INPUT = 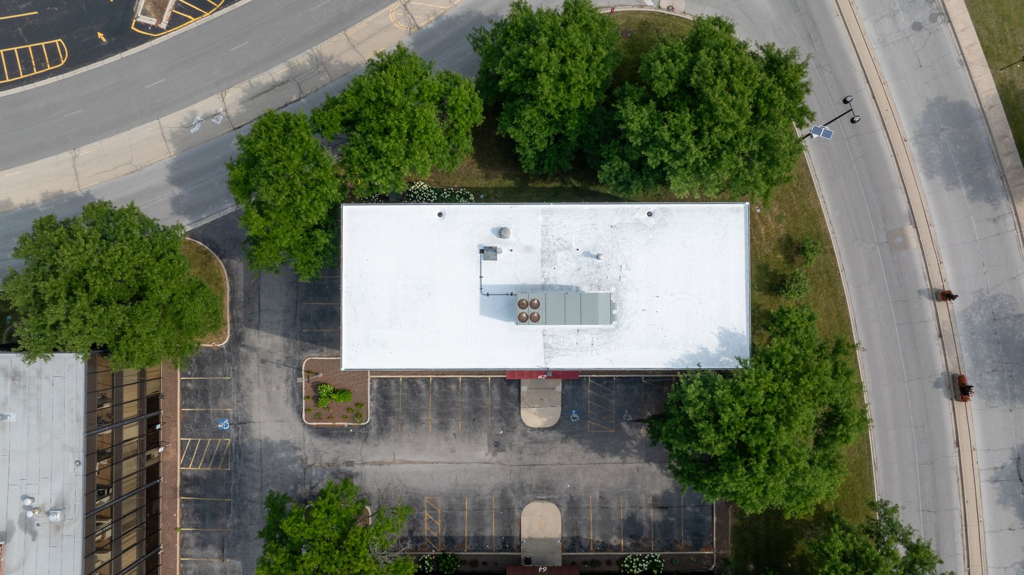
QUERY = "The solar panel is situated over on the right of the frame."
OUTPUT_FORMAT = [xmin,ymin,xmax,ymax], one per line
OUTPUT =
[809,125,834,140]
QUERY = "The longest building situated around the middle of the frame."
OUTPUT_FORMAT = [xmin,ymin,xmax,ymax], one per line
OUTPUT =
[340,202,751,379]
